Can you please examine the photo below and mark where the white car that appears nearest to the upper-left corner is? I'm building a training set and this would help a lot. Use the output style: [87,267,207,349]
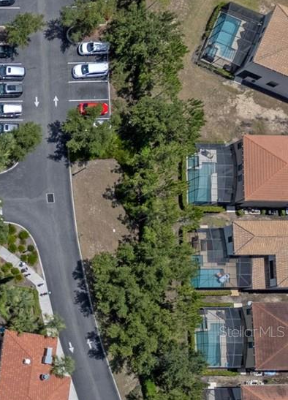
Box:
[0,64,23,80]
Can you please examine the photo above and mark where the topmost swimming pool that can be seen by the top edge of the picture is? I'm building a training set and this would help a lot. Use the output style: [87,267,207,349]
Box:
[207,10,241,57]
